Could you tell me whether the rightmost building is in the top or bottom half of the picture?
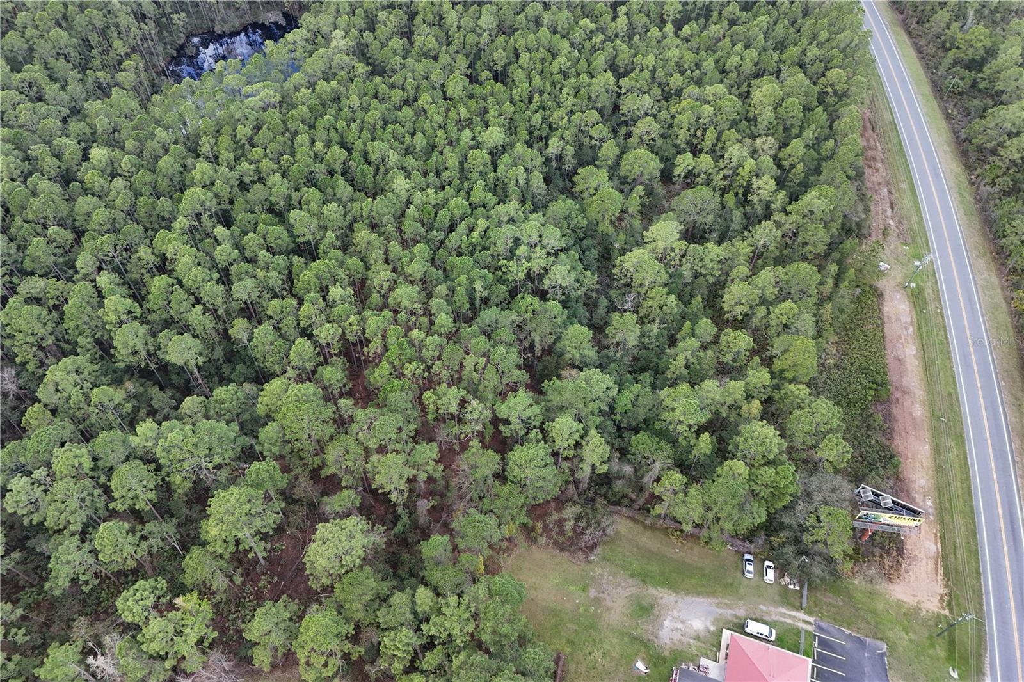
bottom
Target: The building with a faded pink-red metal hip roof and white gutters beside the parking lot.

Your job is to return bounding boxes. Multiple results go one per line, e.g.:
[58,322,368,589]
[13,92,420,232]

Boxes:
[723,632,810,682]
